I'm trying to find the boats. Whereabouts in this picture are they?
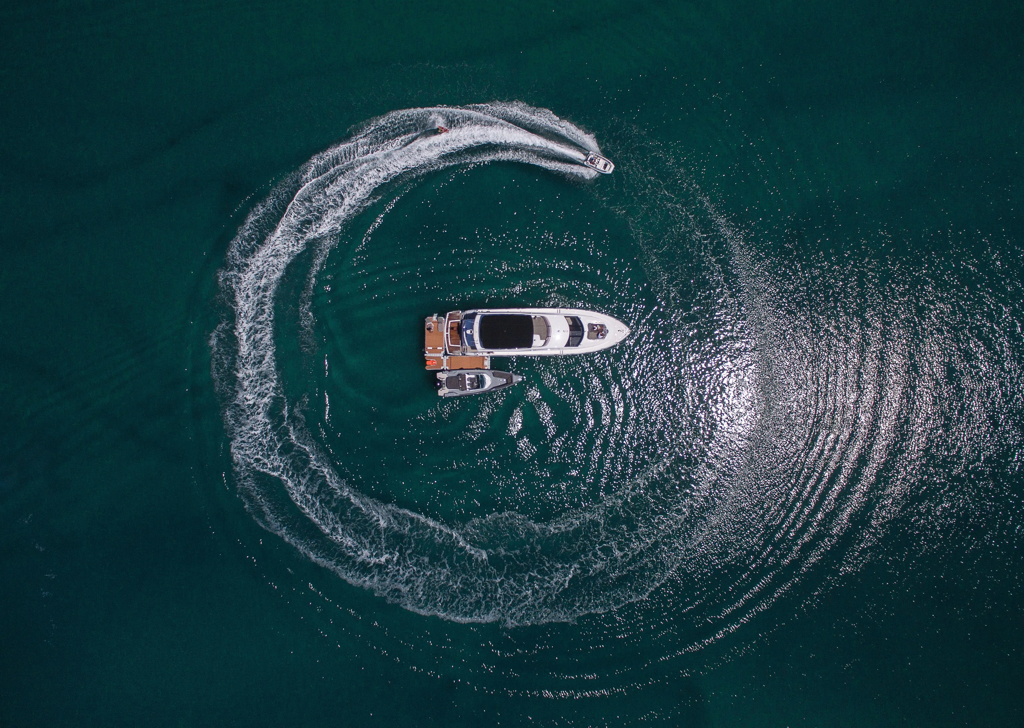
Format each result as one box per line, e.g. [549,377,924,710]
[584,151,615,174]
[444,307,636,356]
[435,369,522,397]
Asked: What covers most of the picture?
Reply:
water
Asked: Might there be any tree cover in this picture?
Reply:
No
